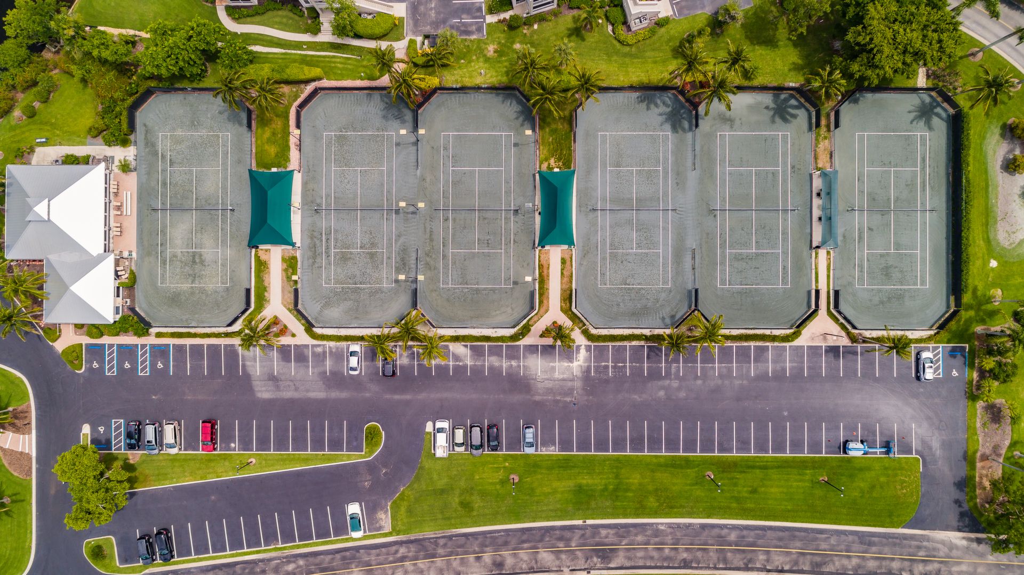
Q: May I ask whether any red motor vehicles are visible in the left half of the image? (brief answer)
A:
Yes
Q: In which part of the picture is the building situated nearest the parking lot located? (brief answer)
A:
left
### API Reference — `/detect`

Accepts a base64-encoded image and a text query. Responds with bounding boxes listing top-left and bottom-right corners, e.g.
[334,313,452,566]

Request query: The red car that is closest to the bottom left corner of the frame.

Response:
[200,421,217,452]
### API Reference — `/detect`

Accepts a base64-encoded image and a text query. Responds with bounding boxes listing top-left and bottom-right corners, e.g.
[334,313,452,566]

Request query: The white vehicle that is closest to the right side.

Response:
[919,351,937,382]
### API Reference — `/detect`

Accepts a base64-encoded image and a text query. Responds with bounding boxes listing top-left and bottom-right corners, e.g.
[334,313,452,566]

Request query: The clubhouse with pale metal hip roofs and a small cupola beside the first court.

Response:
[6,162,130,324]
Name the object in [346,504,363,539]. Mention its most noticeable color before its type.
white car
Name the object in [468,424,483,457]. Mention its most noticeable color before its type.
gray car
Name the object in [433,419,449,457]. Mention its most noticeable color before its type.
white vehicle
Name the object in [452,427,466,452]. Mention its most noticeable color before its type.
white car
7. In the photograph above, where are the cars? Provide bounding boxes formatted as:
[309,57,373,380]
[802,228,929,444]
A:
[164,421,180,453]
[486,424,500,452]
[468,424,483,457]
[144,422,161,455]
[346,504,363,539]
[452,427,466,452]
[381,347,396,378]
[346,344,360,376]
[136,536,153,566]
[153,530,172,563]
[125,421,141,450]
[200,421,217,452]
[522,424,536,454]
[919,351,937,382]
